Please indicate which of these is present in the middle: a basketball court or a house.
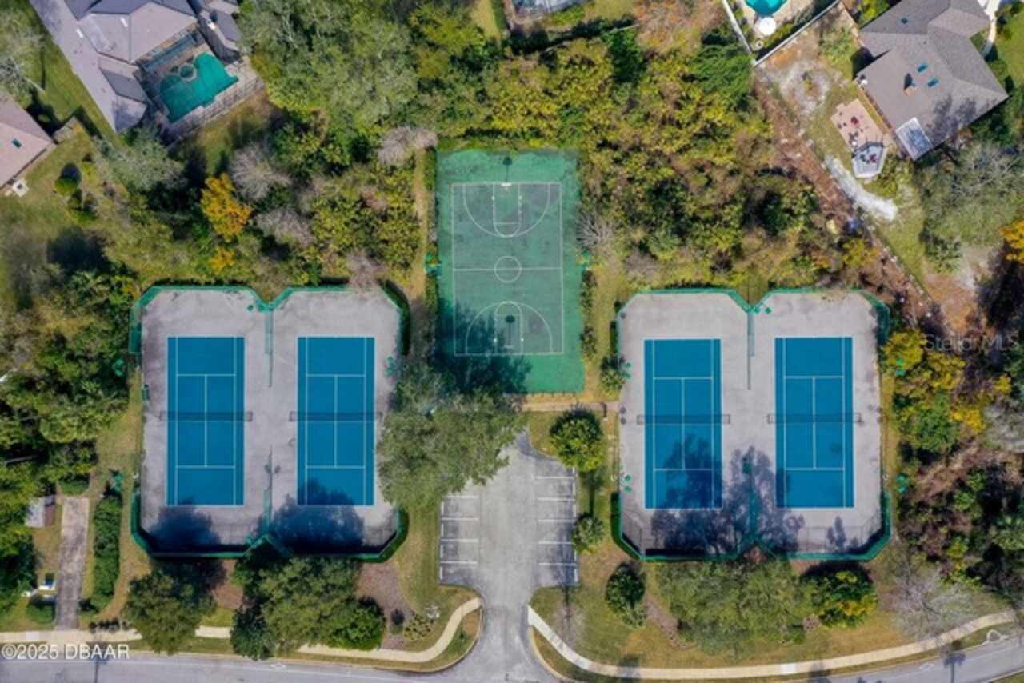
basketball court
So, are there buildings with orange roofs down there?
No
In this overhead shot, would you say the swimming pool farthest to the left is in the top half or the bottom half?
top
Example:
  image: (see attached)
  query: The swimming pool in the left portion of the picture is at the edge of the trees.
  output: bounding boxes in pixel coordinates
[159,51,240,123]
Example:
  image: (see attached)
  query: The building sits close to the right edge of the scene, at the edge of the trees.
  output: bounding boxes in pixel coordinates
[850,0,1009,162]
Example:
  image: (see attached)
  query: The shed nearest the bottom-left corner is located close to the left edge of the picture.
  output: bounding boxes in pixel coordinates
[25,493,66,528]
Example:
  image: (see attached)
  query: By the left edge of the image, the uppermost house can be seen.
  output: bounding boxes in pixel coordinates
[30,0,252,132]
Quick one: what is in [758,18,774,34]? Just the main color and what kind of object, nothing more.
white umbrella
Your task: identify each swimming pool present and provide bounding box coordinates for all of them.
[744,0,788,17]
[159,51,240,123]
